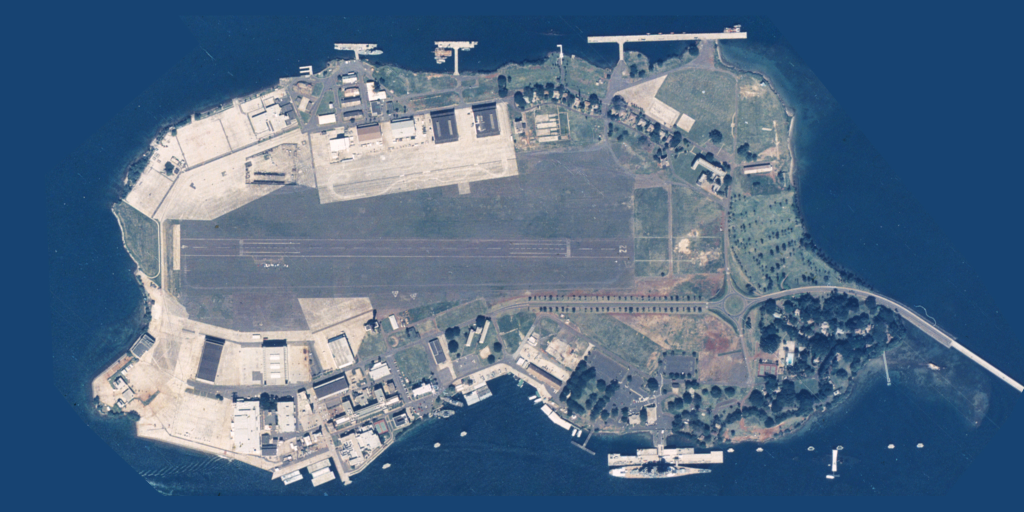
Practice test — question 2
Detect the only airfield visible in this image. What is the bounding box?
[92,88,634,464]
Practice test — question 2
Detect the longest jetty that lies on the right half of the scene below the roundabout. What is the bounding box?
[608,444,723,467]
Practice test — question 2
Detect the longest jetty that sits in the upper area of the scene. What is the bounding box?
[588,32,747,60]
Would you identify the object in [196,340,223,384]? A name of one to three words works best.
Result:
hangar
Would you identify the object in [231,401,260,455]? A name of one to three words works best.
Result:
building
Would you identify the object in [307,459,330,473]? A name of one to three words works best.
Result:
ship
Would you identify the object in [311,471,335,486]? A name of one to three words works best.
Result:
ship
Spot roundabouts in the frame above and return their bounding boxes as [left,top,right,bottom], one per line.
[706,283,760,327]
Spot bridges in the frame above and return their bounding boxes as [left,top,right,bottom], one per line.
[951,340,1024,393]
